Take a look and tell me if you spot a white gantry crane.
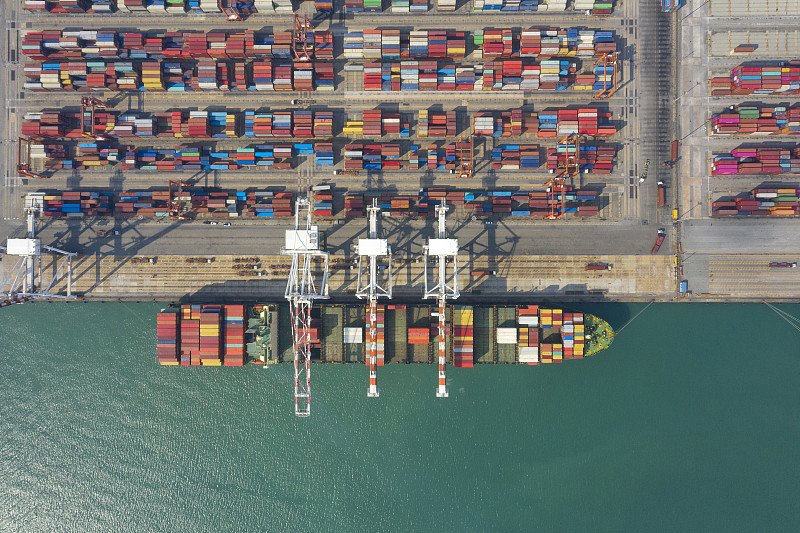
Yes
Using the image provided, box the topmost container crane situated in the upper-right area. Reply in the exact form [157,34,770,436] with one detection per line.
[591,53,617,101]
